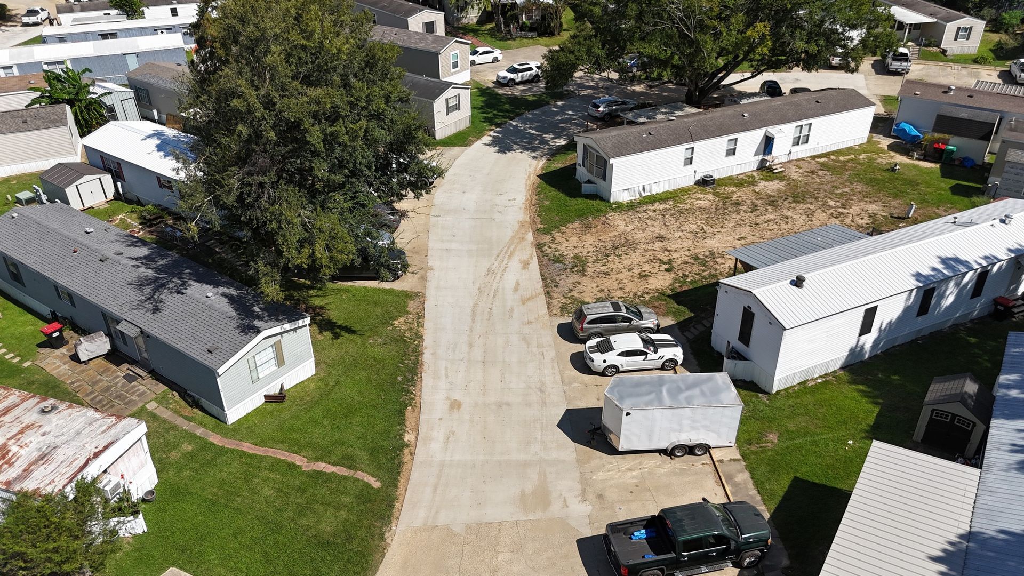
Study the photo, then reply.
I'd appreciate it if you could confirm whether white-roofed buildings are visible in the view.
Yes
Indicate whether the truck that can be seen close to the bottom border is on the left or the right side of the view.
right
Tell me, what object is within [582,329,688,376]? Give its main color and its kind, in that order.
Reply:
white car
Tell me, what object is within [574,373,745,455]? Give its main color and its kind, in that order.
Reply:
white trailer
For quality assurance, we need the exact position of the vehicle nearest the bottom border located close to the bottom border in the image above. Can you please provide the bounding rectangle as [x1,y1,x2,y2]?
[600,499,780,576]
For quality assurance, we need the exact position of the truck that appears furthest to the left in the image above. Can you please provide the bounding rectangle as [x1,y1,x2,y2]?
[9,8,59,29]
